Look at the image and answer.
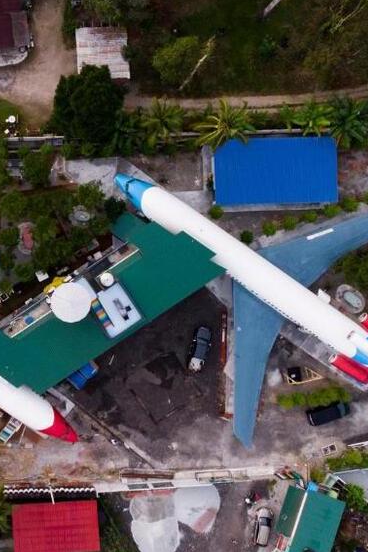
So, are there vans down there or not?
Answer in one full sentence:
Yes, a van appears in the view.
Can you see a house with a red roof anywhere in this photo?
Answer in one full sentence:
Yes, there's a house with a red roof here.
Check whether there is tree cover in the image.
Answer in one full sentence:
Yes, tree cover can be seen from above here.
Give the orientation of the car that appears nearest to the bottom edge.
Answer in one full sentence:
What the image shows is the car that appears nearest to the bottom edge lying vertically.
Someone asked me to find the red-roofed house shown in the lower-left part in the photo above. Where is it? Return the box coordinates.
[12,497,101,552]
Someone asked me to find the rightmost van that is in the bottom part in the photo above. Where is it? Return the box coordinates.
[303,400,349,428]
